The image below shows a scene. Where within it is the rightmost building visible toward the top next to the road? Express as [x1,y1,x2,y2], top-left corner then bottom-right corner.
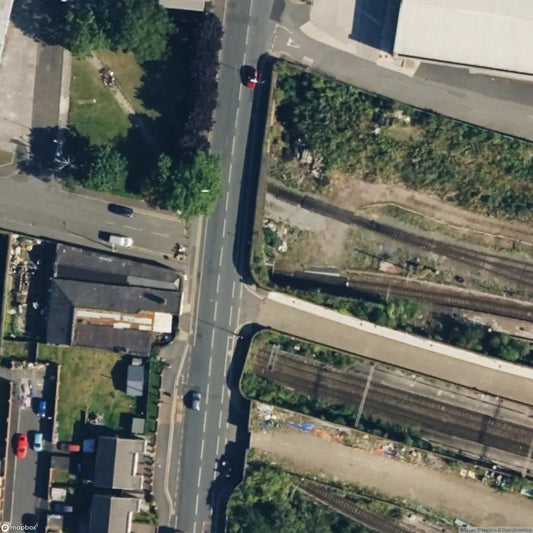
[394,0,533,78]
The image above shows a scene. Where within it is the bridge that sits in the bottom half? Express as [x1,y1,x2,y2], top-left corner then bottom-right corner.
[268,291,533,407]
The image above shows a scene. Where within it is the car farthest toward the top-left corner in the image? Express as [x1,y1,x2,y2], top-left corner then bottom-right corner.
[108,204,133,216]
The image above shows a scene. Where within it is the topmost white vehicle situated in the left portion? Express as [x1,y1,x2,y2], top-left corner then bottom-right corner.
[109,235,133,248]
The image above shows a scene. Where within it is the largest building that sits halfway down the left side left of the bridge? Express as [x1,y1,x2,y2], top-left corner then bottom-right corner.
[47,243,185,355]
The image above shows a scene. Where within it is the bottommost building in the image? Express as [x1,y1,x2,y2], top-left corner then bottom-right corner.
[89,496,143,533]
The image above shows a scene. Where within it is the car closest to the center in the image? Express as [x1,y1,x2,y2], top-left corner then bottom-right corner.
[153,333,174,346]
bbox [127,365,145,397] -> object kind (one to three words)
shed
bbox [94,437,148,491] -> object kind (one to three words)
house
